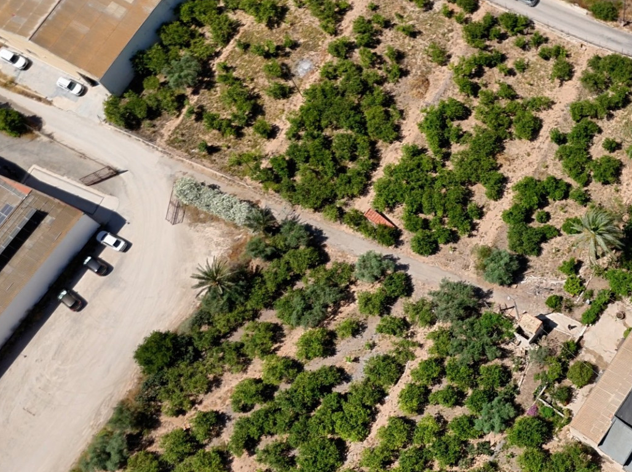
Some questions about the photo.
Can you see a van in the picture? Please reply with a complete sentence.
Yes, you can see a van in this photo.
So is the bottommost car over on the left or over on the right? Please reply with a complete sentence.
The bottommost car appears in the left half of the scene.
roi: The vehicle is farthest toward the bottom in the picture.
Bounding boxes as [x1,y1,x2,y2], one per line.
[53,286,88,315]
